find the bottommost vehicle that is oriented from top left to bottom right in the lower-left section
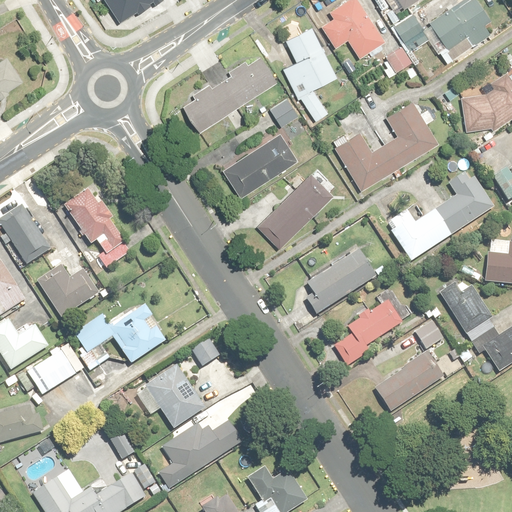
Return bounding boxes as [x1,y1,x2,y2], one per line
[115,460,128,476]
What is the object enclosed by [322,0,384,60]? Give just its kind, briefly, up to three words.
house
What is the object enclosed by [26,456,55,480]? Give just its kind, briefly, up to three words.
swimming pool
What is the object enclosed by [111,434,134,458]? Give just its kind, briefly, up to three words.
shed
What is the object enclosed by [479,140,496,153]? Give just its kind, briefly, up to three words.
vehicle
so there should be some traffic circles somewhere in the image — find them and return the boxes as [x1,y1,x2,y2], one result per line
[88,68,128,108]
